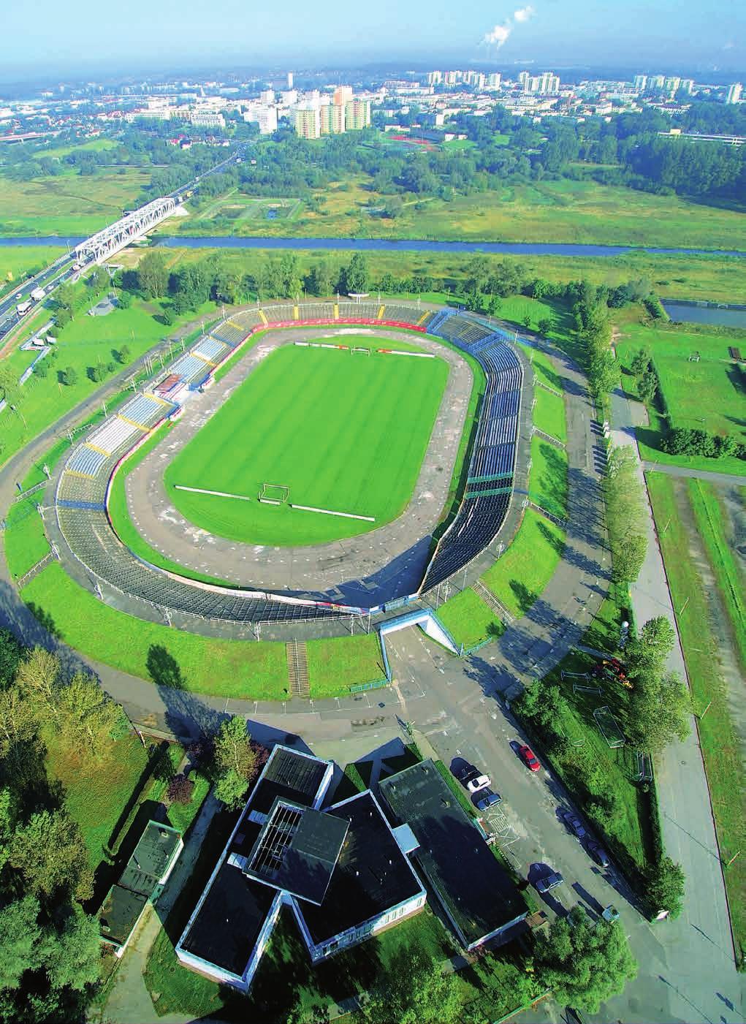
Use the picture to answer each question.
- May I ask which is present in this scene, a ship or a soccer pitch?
soccer pitch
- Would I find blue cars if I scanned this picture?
Yes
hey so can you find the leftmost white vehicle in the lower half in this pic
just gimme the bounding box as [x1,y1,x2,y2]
[466,773,492,793]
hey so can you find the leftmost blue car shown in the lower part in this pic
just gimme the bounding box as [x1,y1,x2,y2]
[476,792,502,812]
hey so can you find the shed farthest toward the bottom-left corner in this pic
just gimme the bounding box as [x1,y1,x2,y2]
[95,885,152,954]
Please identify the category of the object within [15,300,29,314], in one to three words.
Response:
vehicle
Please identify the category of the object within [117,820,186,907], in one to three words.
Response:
shed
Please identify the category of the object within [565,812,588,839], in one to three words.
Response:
car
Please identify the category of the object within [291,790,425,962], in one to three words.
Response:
building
